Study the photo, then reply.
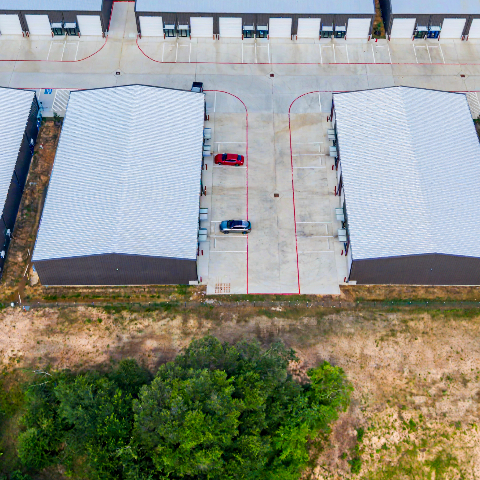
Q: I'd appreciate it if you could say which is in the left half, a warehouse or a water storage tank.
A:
warehouse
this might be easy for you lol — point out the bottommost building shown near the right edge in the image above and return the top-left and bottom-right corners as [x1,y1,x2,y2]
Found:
[326,84,480,287]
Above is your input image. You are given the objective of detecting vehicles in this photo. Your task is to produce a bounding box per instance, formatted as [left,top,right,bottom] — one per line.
[219,221,251,237]
[215,155,245,168]
[190,82,202,91]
